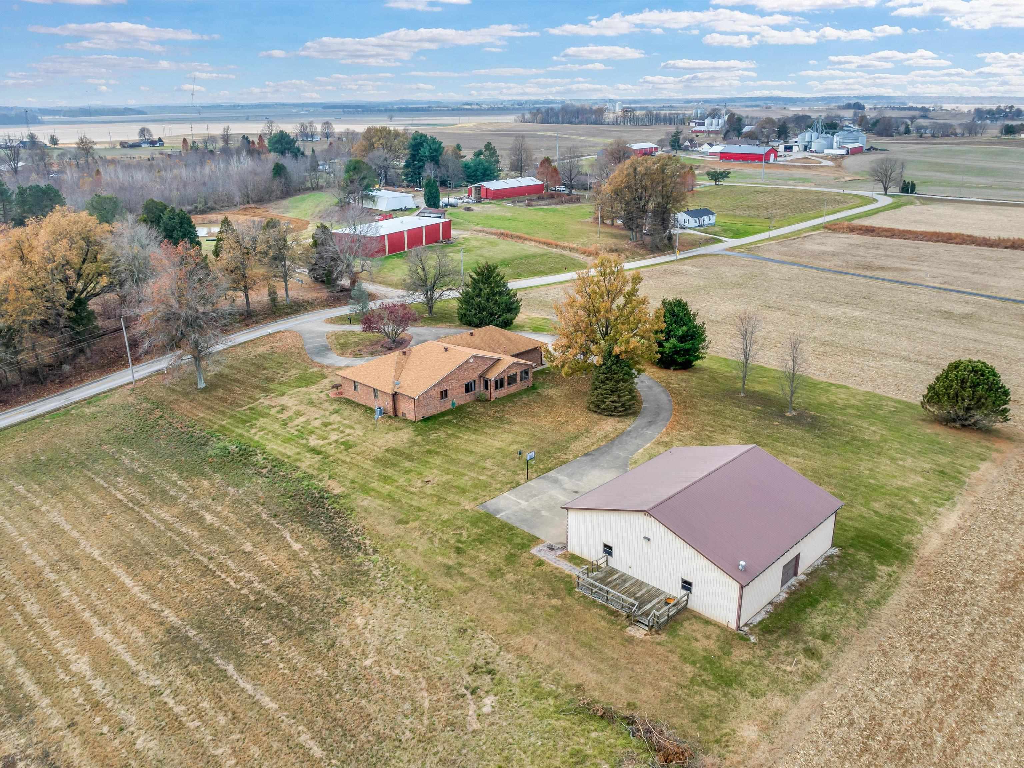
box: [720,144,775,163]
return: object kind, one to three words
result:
barn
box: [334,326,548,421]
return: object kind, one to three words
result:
house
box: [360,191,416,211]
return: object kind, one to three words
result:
shed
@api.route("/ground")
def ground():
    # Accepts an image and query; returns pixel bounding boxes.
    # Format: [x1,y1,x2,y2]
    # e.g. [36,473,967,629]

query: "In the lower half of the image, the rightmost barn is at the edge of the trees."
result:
[561,446,845,635]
